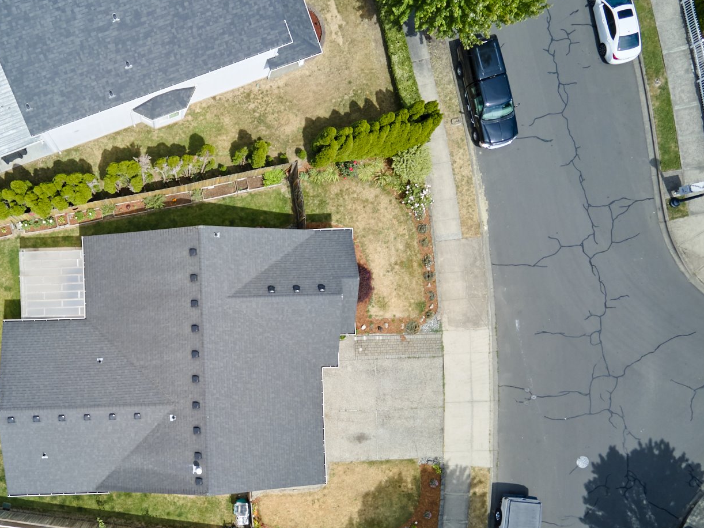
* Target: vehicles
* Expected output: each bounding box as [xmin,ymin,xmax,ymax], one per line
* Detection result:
[585,0,640,67]
[492,486,539,528]
[457,36,522,153]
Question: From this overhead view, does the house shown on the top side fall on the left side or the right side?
left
